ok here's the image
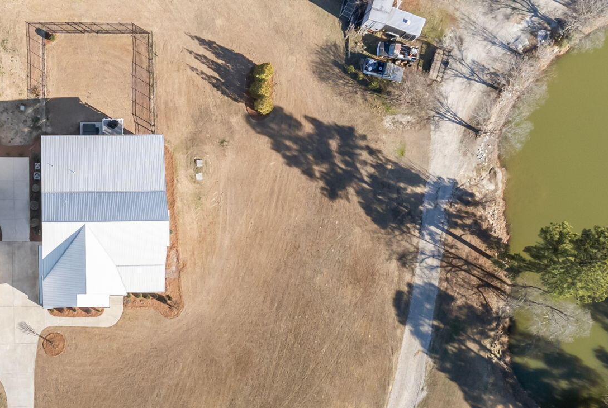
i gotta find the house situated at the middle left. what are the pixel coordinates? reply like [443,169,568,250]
[37,133,170,307]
